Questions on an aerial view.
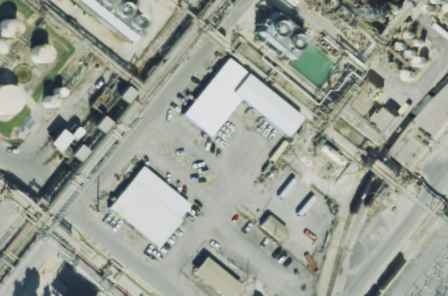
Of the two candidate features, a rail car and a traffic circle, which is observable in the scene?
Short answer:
rail car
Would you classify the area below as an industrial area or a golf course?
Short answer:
industrial area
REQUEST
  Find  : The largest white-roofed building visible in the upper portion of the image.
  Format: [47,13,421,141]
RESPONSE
[180,57,305,140]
